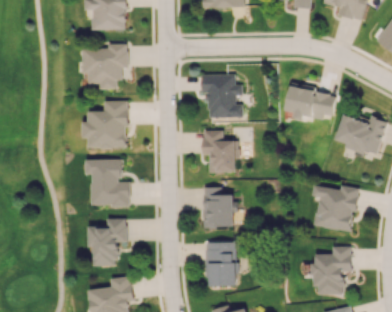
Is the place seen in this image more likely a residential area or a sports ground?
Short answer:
residential area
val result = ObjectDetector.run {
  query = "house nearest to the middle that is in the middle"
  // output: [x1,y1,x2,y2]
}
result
[202,130,241,174]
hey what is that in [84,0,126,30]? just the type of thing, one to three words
house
